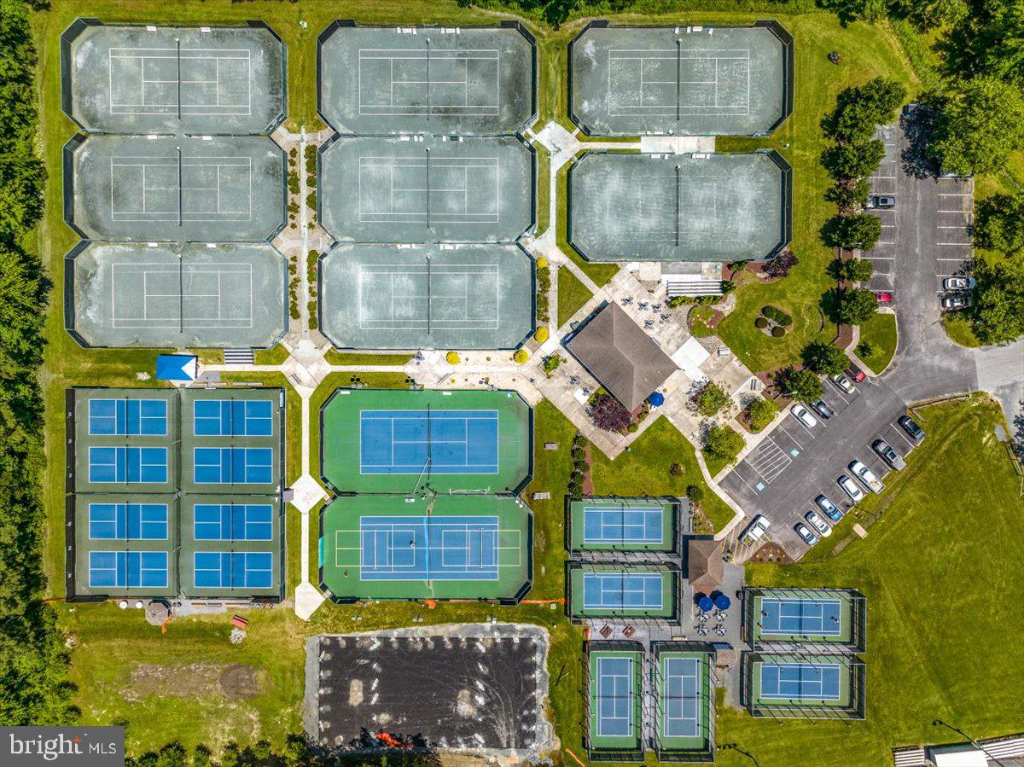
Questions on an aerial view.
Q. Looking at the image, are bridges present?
No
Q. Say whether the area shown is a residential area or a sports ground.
sports ground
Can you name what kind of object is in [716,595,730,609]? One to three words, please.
umbrella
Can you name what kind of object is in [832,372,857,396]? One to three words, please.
car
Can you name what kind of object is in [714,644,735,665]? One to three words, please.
shed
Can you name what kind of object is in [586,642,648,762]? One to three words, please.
tennis court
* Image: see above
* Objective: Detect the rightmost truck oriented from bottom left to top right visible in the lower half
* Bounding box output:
[740,516,768,546]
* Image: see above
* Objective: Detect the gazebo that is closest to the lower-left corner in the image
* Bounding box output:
[146,599,175,625]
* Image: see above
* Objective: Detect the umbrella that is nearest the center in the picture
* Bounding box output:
[648,391,663,406]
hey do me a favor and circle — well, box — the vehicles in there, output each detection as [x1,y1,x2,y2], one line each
[838,476,863,500]
[816,496,841,520]
[811,399,834,421]
[944,276,974,289]
[852,463,884,493]
[805,511,831,536]
[793,522,817,546]
[865,195,894,209]
[791,403,816,428]
[874,440,906,471]
[874,293,892,304]
[941,296,971,309]
[896,415,922,440]
[841,360,865,384]
[832,372,857,396]
[740,516,768,546]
